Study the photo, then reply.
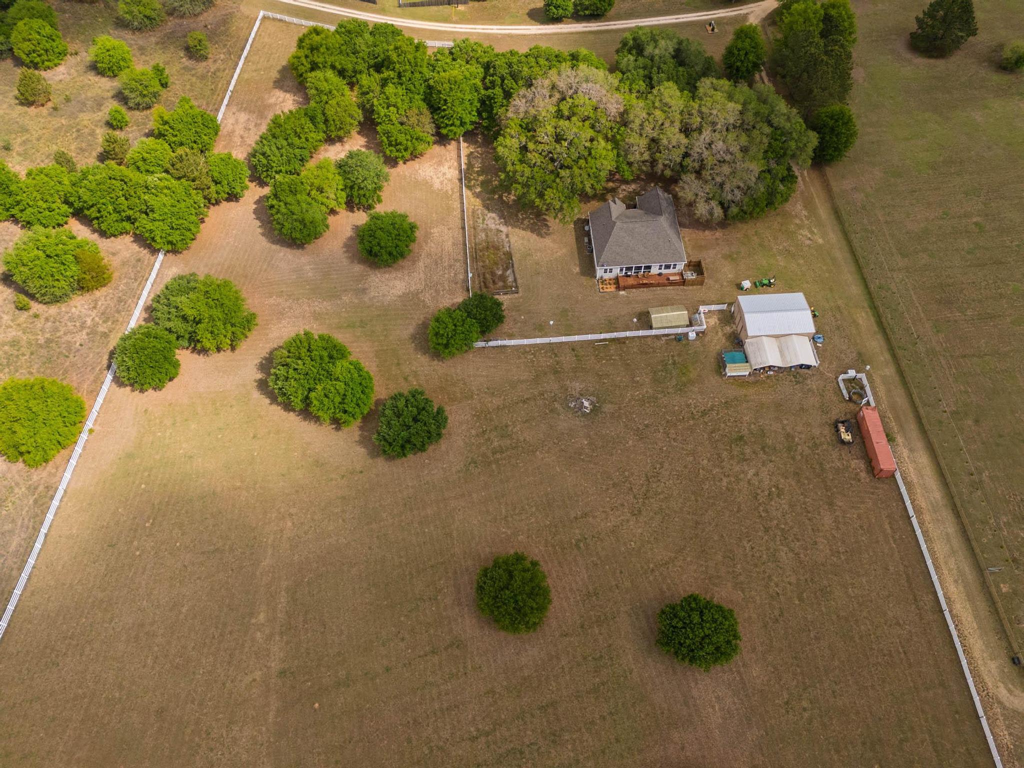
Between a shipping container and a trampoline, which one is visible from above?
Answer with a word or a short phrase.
shipping container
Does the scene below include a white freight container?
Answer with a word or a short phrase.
No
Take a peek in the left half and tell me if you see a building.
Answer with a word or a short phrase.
No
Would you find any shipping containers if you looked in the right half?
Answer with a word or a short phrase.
Yes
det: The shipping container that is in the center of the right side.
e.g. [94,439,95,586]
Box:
[856,407,896,478]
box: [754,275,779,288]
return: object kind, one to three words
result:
vehicle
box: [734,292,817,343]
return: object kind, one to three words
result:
barn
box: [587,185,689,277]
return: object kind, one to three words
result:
house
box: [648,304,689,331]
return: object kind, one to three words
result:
shed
